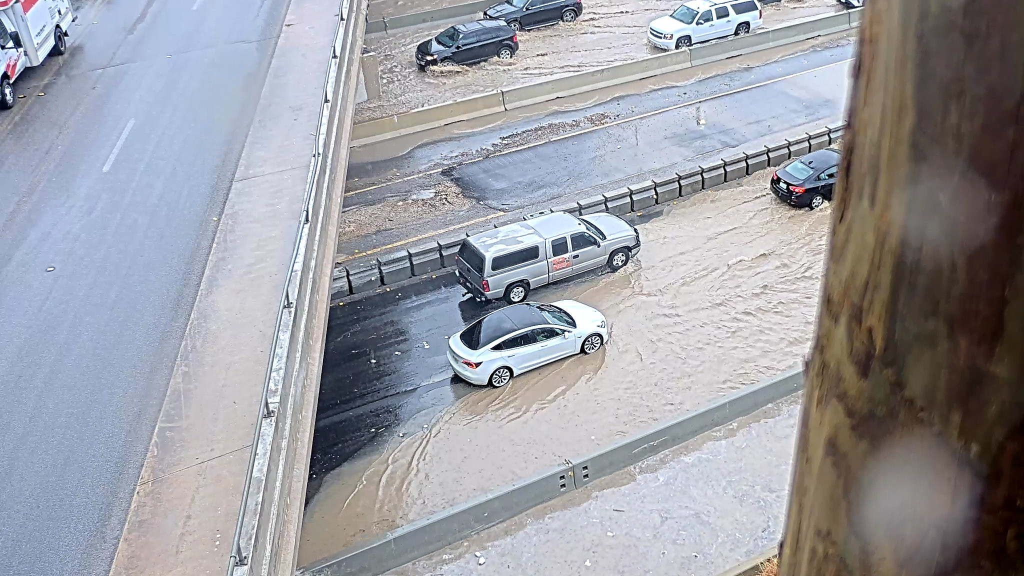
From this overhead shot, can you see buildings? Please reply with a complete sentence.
No, I can see no building in this picture.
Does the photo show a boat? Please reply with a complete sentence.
No, the photo shows no boat.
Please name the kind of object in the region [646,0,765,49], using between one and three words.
car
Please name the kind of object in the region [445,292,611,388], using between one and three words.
car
